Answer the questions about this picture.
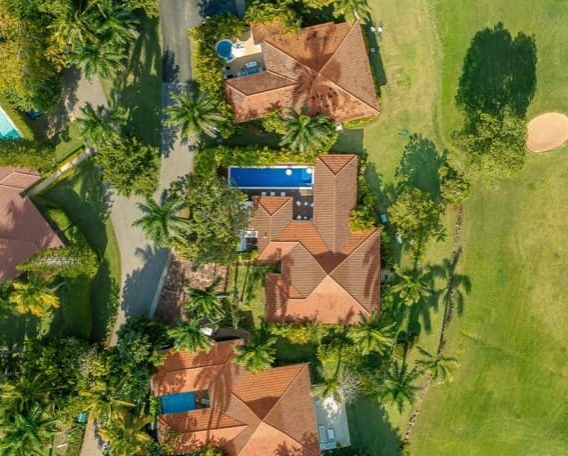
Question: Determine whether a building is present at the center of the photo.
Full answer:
Yes, a building can be seen at the center of the photo.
